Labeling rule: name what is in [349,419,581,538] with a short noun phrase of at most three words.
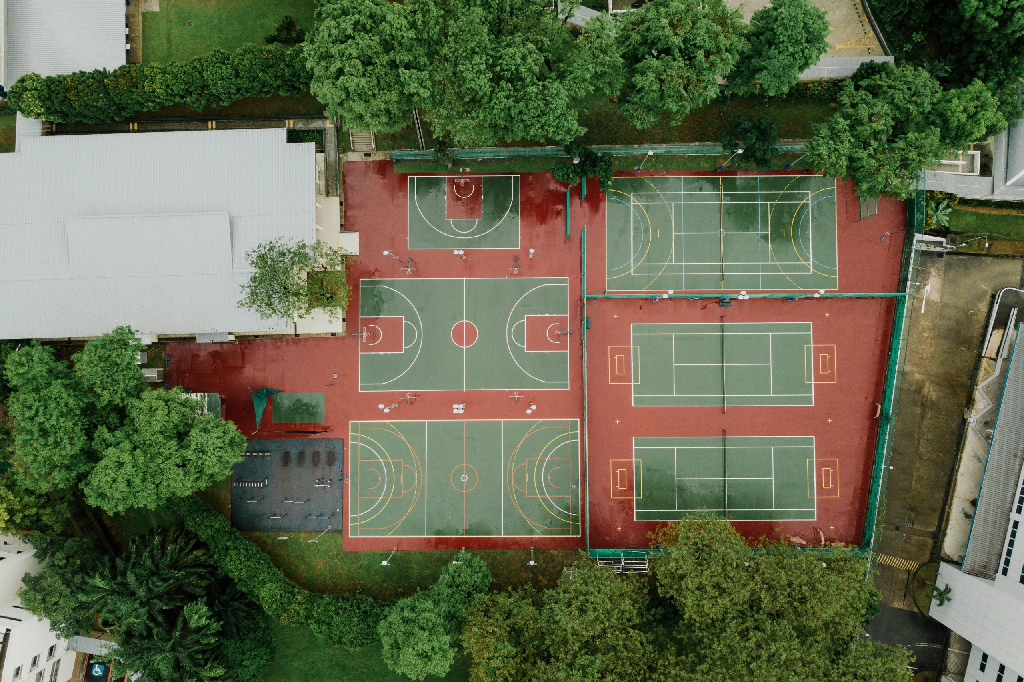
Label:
sports court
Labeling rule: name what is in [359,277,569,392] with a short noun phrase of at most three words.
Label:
basketball court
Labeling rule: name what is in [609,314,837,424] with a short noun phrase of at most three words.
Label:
tennis court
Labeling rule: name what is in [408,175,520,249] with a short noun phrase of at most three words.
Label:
basketball court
